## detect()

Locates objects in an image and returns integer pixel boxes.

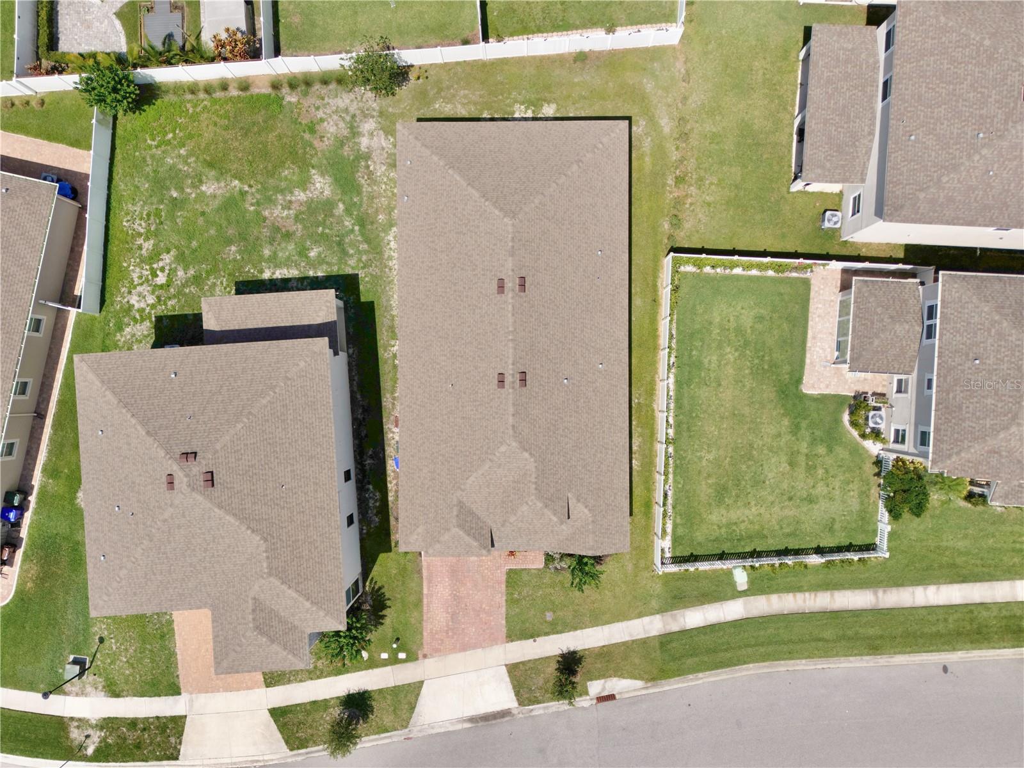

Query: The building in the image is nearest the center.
[396,119,630,557]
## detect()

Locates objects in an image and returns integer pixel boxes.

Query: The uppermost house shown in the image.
[792,0,1024,248]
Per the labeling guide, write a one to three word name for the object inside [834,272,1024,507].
house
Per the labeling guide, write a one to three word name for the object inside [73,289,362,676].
house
